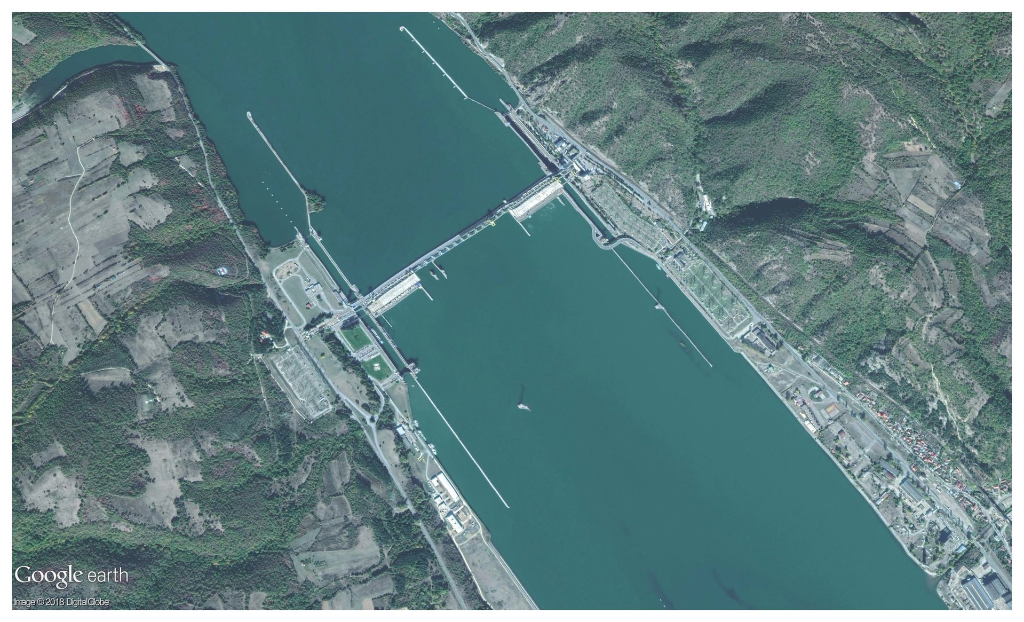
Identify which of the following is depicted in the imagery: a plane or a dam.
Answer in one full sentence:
Visible in the photo is a dam.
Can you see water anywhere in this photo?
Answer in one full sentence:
Yes, there's water in this view.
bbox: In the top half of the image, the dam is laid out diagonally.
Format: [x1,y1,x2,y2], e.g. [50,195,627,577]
[308,158,580,336]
